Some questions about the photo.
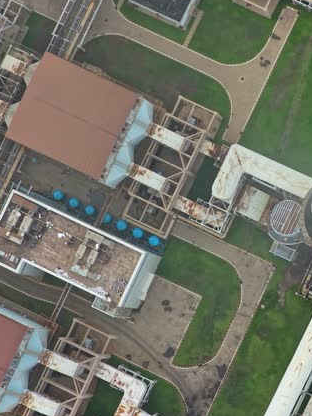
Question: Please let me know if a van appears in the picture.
No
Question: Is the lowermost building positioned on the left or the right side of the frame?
left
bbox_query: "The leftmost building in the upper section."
[2,52,160,191]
